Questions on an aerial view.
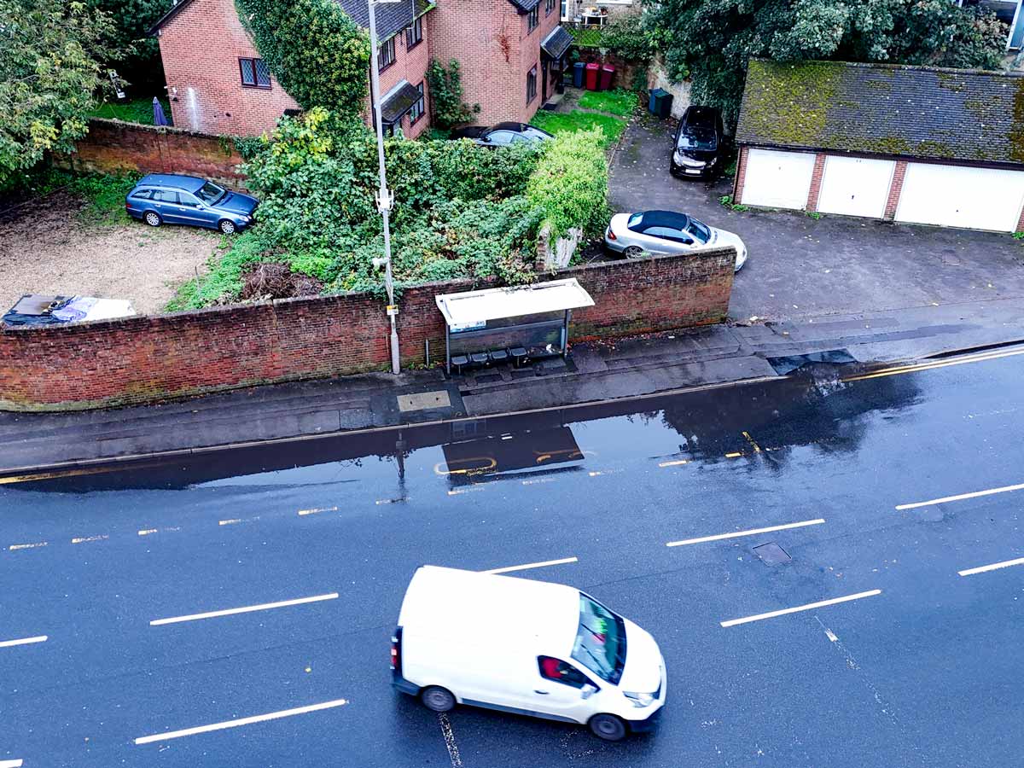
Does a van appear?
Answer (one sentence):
Yes, a van is visible in the scene.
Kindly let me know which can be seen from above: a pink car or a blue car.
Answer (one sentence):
The one in the frame is a blue car.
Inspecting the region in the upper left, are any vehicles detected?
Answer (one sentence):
Yes, in the upper left there is a vehicle.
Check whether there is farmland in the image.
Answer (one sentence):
No, the scene doesn't show any farmland.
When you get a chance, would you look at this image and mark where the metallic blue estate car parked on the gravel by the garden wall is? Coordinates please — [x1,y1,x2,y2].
[119,173,253,235]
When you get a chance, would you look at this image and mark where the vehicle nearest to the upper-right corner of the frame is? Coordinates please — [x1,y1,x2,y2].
[667,108,724,170]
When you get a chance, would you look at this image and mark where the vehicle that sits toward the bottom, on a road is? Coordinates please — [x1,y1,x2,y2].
[389,570,670,745]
